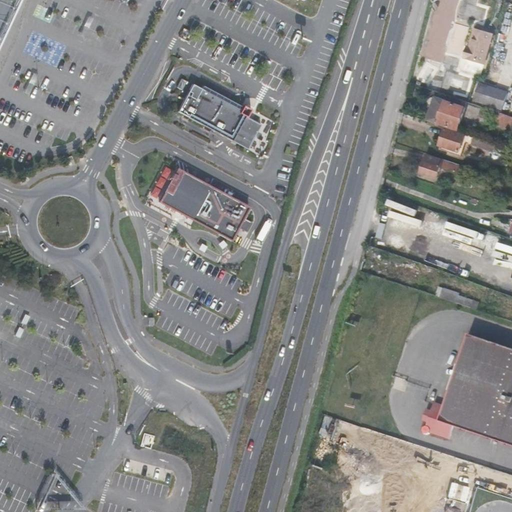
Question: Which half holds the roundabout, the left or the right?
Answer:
left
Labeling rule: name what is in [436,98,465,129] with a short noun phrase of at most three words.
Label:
house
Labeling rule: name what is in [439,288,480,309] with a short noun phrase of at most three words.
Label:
shed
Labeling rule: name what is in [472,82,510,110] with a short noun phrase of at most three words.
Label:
shed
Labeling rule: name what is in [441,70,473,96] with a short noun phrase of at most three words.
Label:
building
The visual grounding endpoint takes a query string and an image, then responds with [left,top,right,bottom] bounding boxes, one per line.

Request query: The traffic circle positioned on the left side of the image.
[0,175,112,270]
